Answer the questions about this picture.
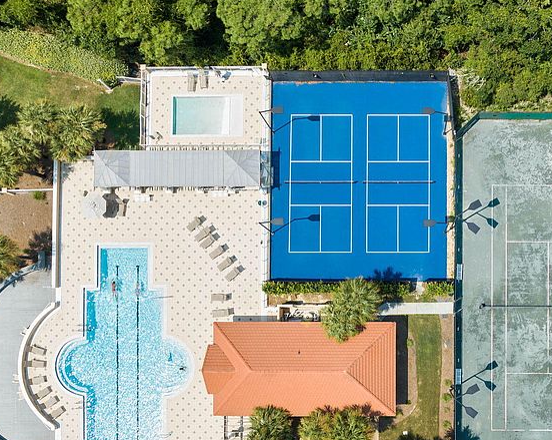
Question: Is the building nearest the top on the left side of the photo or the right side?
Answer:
left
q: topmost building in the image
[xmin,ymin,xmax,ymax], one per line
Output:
[93,149,266,192]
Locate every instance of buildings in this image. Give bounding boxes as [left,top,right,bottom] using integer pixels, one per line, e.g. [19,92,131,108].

[202,321,396,417]
[93,149,266,192]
